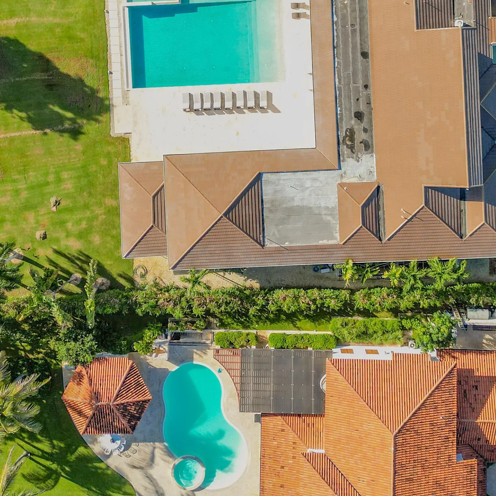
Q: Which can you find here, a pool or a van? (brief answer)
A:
pool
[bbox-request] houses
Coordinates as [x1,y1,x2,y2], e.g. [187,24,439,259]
[260,340,496,496]
[118,0,496,271]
